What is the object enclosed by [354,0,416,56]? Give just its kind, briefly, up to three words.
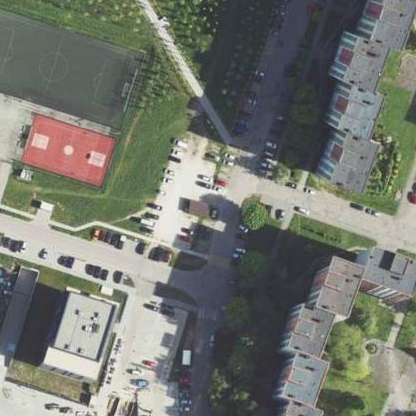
building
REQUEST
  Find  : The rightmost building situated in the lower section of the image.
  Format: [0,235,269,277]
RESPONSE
[353,247,416,300]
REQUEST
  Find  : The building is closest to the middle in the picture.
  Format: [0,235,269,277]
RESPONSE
[187,199,210,218]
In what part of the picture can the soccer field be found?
top left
